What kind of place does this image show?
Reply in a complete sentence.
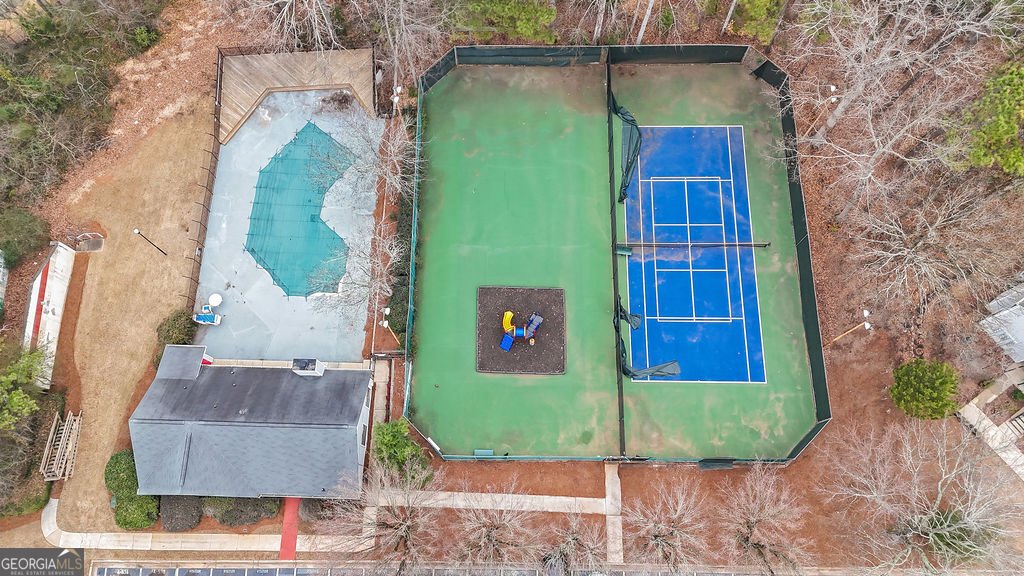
This looks like a sports ground.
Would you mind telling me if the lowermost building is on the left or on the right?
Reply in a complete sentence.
You can find the lowermost building on the left side of the picture.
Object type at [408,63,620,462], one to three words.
sports court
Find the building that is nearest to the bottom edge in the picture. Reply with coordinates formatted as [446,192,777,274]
[129,344,376,500]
